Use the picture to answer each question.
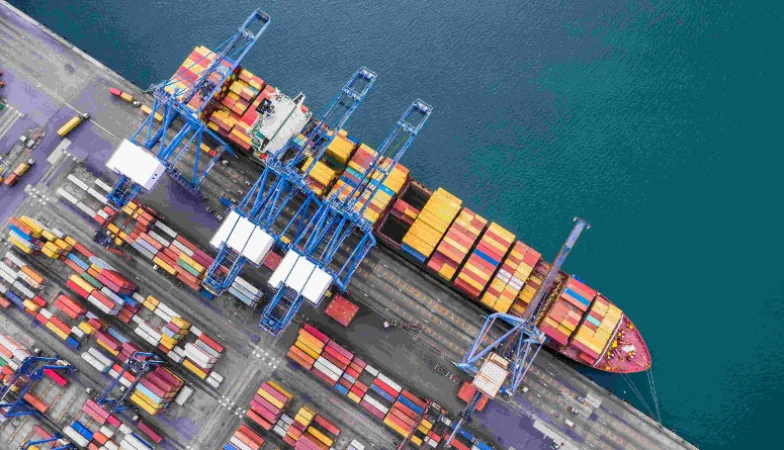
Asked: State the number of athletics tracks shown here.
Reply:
none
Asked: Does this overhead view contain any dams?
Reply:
No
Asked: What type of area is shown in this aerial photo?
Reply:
port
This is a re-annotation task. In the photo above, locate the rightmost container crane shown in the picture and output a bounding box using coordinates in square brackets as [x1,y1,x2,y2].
[441,212,590,449]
